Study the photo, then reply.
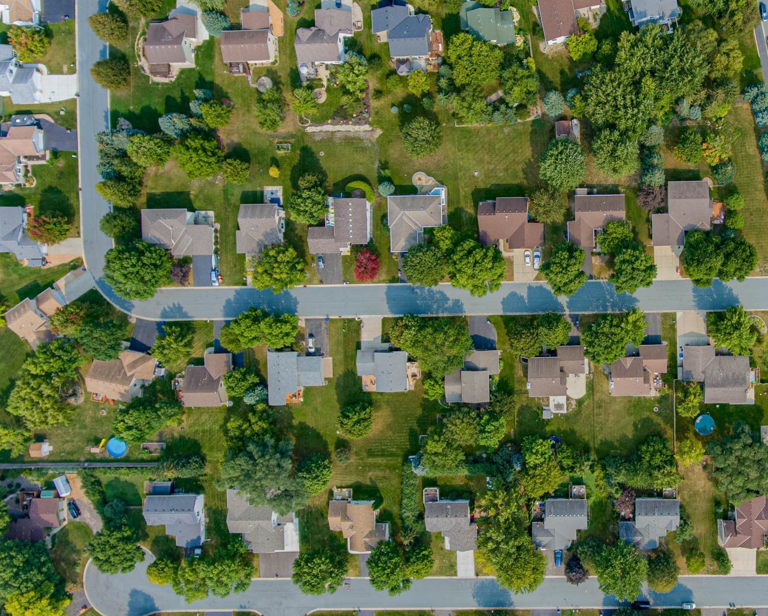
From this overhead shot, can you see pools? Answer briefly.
Yes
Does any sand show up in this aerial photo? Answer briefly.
No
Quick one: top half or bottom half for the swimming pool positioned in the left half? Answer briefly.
bottom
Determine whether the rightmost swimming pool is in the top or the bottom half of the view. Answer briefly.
bottom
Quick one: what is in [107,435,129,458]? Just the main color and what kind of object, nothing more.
blue swimming pool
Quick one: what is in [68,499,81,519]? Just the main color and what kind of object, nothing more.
blue vehicle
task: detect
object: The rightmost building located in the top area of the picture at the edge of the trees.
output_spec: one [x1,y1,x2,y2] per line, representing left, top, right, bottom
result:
[652,181,725,246]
